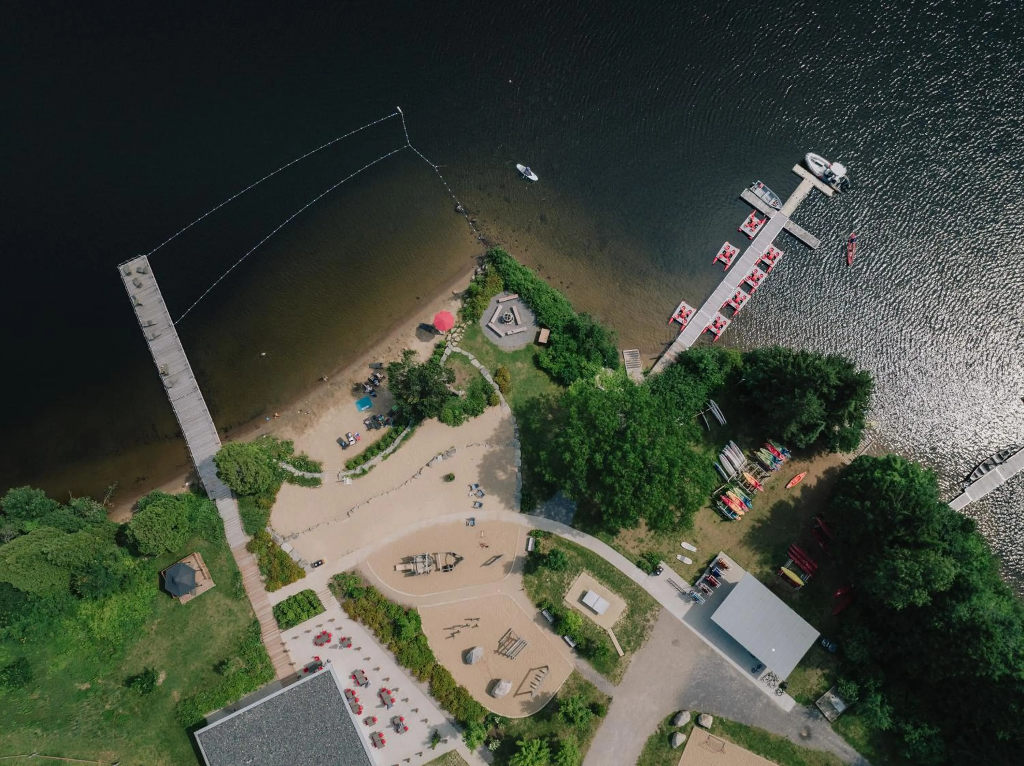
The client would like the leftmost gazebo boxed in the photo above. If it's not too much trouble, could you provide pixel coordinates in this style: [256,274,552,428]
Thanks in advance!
[159,552,216,604]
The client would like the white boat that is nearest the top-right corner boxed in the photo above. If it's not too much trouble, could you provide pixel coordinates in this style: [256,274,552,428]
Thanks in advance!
[809,152,849,193]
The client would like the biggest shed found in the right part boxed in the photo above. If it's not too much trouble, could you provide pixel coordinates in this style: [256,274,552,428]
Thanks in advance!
[708,571,820,681]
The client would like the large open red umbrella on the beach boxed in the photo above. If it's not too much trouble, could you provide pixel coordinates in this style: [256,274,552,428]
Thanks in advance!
[435,312,456,332]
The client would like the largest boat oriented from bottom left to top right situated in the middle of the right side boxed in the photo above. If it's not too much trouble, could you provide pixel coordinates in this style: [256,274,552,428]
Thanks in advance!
[965,447,1011,482]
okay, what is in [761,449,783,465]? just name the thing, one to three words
boat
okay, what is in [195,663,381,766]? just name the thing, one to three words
building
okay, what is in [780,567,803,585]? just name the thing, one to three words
boat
